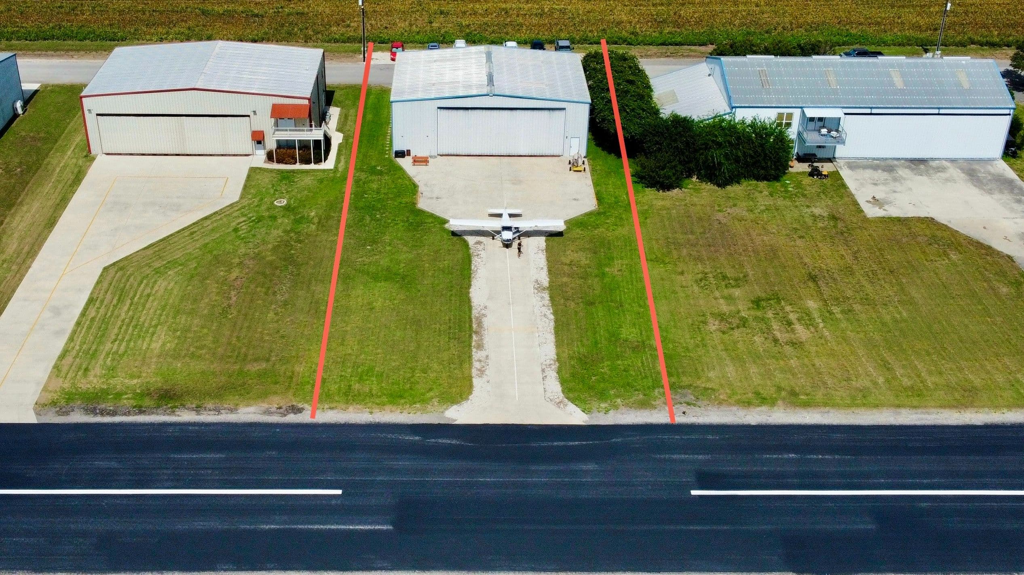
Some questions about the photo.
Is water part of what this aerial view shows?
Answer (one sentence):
No, the scene doesn't show any water.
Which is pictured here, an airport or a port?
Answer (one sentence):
The area seen from above is an airport.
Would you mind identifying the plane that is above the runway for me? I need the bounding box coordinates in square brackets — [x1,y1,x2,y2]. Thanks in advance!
[450,199,564,249]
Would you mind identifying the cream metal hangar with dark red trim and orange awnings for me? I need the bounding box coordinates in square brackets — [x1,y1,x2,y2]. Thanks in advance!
[79,40,328,154]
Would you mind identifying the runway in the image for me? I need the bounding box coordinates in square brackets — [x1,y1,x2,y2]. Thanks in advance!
[0,423,1024,572]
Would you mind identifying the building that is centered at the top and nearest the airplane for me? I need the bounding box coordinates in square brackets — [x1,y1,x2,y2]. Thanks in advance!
[390,44,591,157]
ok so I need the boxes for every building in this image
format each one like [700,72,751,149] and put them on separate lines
[704,54,1018,160]
[79,40,328,154]
[390,44,591,157]
[0,53,24,131]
